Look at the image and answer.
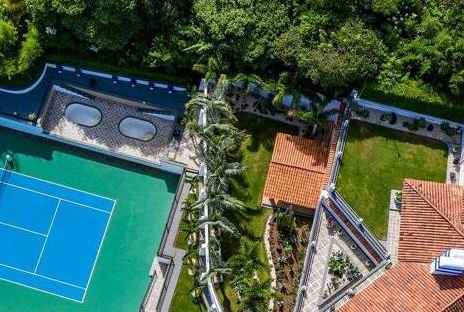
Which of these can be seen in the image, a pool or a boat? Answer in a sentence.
The one in the frame is a pool.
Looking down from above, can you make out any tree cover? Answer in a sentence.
Yes, tree cover can be seen from above here.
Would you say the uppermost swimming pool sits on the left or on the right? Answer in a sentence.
The uppermost swimming pool is on the left side of the image.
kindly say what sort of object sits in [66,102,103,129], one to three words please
swimming pool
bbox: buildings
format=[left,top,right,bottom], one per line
[262,132,330,211]
[339,127,464,312]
